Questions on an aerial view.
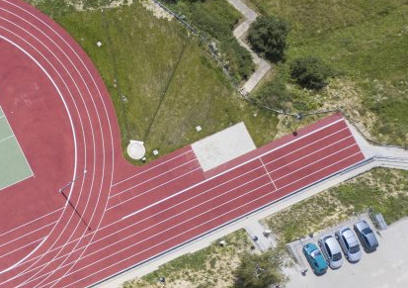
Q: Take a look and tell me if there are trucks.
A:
No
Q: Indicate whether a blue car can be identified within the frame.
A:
Yes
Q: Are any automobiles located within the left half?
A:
No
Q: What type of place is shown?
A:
sports ground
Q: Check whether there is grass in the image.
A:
Yes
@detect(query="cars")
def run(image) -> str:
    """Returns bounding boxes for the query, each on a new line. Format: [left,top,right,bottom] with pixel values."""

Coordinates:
[301,242,329,277]
[352,218,381,253]
[317,234,344,268]
[335,227,363,261]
